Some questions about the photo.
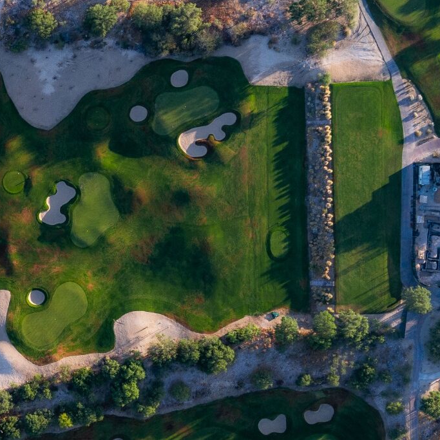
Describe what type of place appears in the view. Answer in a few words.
golf course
